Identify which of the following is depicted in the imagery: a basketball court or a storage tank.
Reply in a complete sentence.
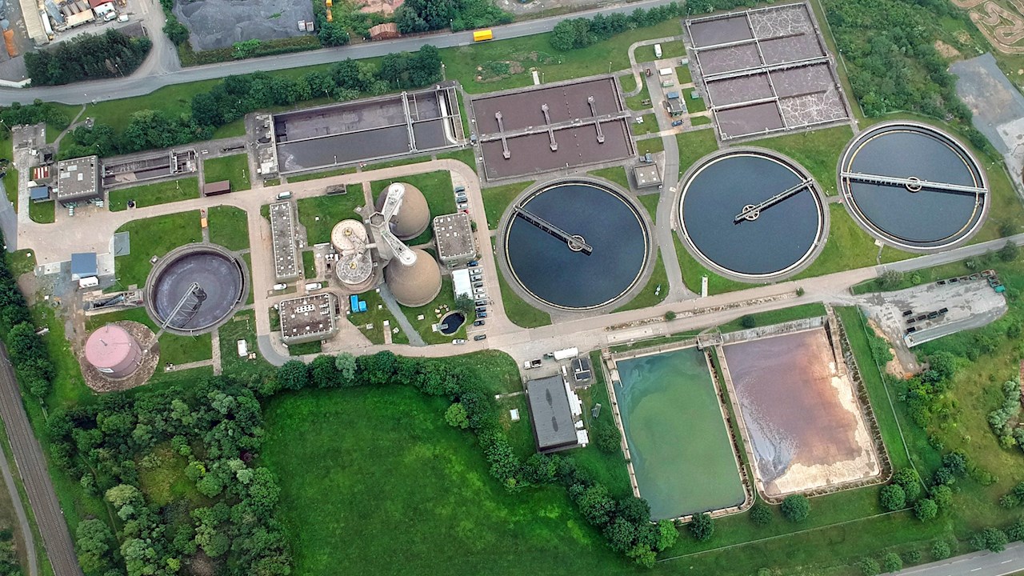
It is a storage tank that can be seen here.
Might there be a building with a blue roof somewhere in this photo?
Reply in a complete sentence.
Yes, the picture does show a building with a blue roof.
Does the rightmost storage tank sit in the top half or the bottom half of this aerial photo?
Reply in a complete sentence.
The top half of the photo is where the rightmost storage tank is.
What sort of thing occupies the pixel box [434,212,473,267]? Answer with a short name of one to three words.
building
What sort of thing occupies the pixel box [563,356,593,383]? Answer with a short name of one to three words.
shed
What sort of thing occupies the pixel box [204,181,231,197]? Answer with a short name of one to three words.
shed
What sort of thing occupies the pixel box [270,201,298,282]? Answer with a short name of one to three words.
building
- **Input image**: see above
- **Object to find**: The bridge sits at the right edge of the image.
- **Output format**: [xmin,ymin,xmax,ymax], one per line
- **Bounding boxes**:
[839,170,990,195]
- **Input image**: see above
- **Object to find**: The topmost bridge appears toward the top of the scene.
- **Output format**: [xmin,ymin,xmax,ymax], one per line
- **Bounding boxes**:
[400,89,425,156]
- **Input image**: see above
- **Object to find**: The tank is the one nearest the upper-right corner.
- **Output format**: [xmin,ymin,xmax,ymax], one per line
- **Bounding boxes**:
[833,118,993,256]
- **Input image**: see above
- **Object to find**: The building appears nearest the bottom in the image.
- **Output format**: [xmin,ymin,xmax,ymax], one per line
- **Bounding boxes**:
[524,374,580,456]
